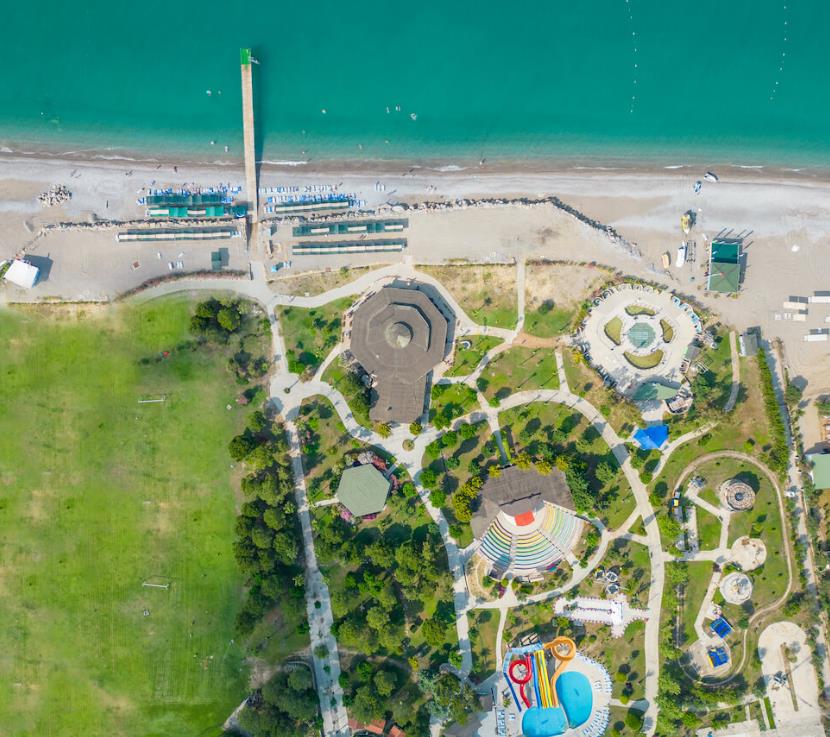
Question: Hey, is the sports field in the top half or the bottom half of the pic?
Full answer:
Seen from above, the sports field lies in the bottom half of the view.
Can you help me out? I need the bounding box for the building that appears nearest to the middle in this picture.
[351,288,446,423]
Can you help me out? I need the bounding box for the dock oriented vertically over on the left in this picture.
[241,48,258,222]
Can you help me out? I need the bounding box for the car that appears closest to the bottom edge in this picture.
[773,673,789,687]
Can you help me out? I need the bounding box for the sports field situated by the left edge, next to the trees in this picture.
[0,290,246,737]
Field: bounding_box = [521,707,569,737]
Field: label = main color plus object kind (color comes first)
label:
blue swimming pool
